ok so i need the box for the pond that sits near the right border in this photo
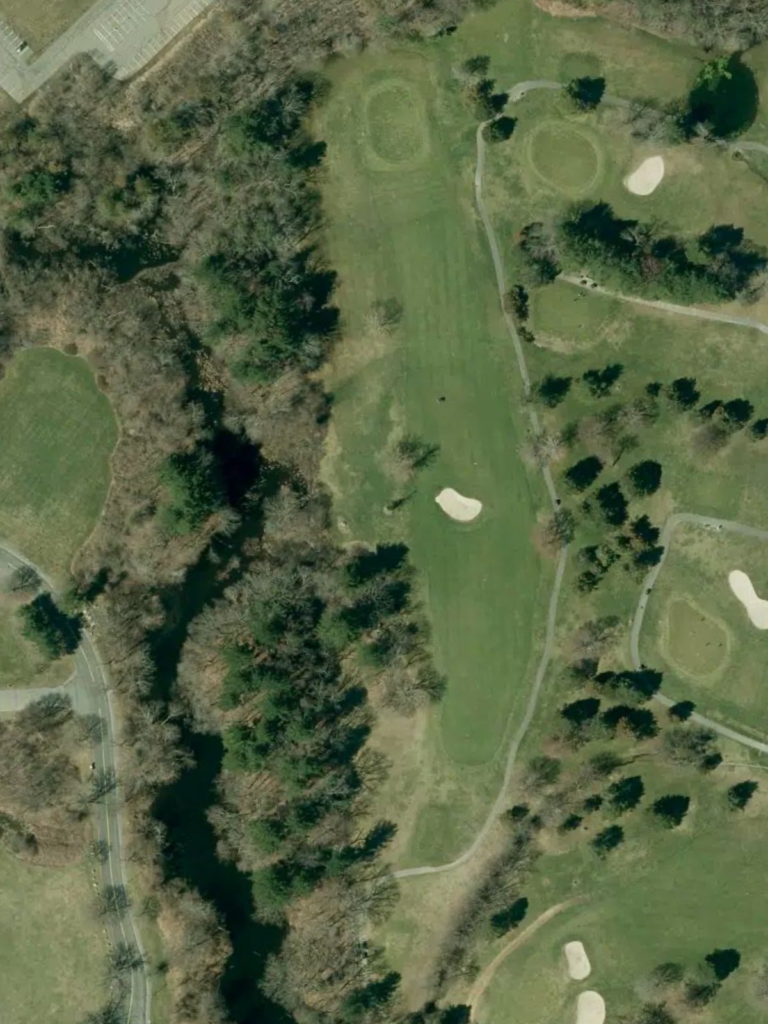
[687,54,759,138]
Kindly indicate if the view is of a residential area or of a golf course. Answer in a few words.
golf course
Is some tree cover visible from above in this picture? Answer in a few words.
Yes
